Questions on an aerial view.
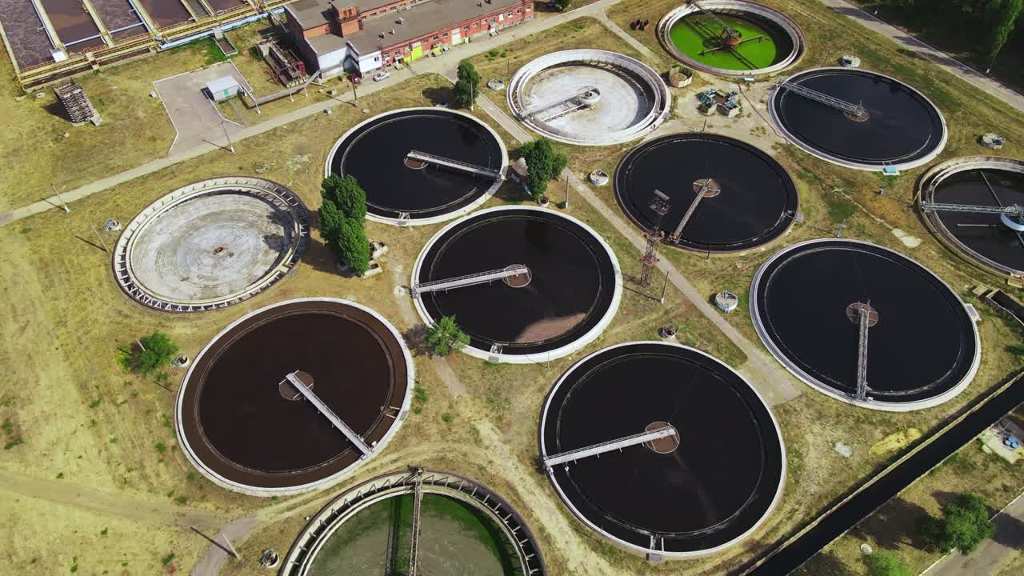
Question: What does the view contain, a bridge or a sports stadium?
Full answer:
I can see a bridge in this picture.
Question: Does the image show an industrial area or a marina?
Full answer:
It's an industrial area.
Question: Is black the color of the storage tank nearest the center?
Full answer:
Yes, black is the color of the storage tank nearest the center.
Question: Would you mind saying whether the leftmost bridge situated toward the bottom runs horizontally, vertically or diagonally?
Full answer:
The leftmost bridge situated toward the bottom is oriented diagonally.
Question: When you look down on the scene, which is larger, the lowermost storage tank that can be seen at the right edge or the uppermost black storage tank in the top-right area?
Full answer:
The lowermost storage tank that can be seen at the right edge is bigger than the uppermost black storage tank in the top-right area.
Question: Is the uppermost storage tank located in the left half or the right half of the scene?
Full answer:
The uppermost storage tank sits on the right side.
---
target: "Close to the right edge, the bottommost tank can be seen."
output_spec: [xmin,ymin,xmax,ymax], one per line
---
[749,240,982,414]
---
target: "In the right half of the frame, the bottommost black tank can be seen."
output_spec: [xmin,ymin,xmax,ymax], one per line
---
[541,342,784,568]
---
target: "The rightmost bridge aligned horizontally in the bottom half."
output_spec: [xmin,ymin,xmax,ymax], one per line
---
[544,427,676,469]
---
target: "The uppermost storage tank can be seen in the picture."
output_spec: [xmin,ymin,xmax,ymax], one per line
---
[657,0,805,81]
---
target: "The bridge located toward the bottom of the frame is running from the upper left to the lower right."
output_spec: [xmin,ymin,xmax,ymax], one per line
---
[284,370,375,459]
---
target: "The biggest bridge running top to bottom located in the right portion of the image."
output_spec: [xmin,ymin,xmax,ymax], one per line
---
[853,298,872,402]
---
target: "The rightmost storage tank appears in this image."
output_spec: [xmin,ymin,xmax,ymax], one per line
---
[917,155,1024,293]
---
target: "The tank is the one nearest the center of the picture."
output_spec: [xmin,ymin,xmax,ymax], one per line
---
[412,207,622,366]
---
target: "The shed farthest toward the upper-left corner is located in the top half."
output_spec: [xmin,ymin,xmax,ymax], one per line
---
[209,78,237,101]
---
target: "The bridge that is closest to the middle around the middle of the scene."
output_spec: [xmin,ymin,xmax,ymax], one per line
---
[415,267,527,295]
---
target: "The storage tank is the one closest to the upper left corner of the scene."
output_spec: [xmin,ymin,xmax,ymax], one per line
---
[113,176,310,314]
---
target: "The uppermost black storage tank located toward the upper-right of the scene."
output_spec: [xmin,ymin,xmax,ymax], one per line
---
[768,68,947,177]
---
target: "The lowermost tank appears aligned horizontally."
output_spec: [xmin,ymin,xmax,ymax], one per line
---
[278,466,548,576]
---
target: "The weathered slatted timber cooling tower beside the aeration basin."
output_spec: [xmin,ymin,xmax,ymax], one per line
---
[56,81,102,126]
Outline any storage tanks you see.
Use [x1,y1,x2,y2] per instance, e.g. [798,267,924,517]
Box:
[657,0,805,81]
[412,207,622,366]
[113,176,310,314]
[541,342,784,568]
[278,466,548,576]
[614,131,806,256]
[507,50,672,149]
[749,240,982,414]
[176,299,415,499]
[325,109,508,229]
[768,68,947,177]
[917,155,1024,293]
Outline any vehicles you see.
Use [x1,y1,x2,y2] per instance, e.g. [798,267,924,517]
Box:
[373,70,391,81]
[348,73,361,84]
